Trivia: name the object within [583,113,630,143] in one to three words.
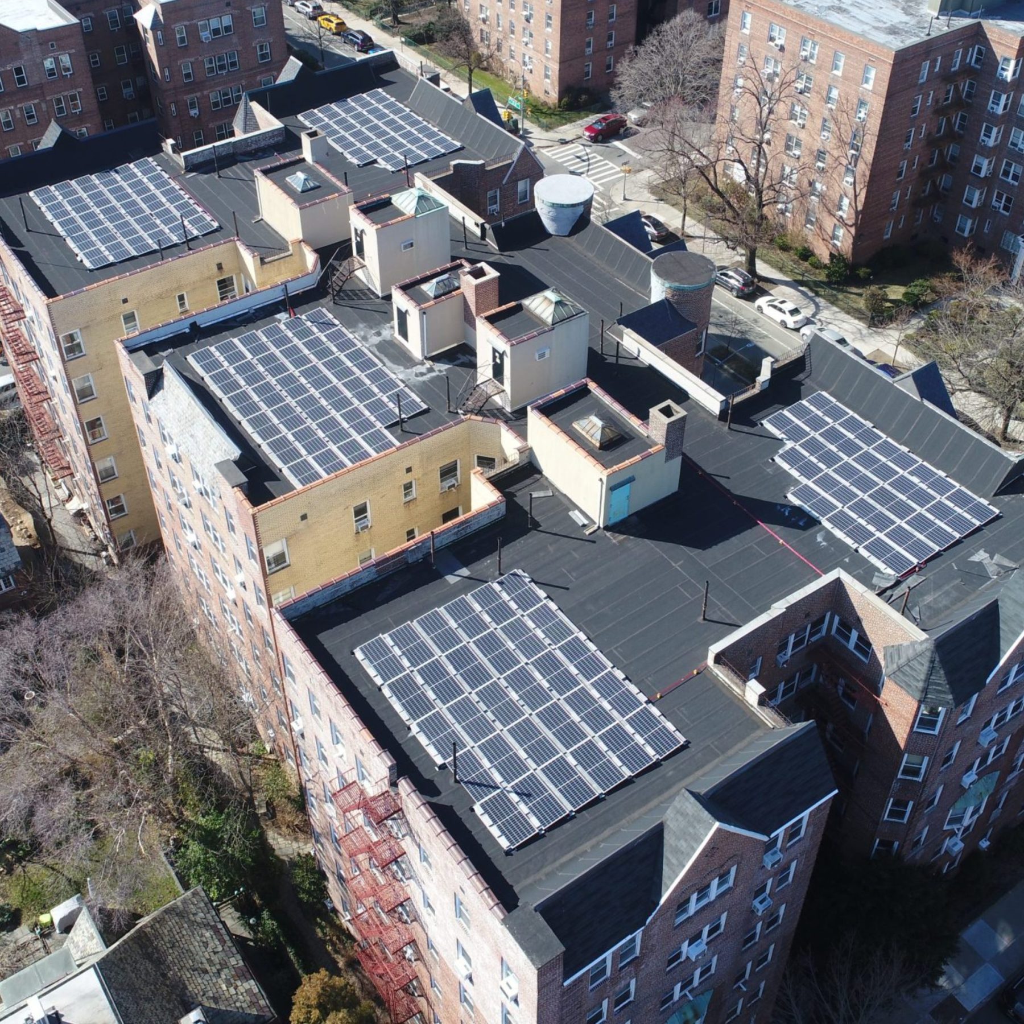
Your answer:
car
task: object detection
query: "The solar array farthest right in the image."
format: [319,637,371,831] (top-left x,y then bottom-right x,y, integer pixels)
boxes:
[758,394,1003,584]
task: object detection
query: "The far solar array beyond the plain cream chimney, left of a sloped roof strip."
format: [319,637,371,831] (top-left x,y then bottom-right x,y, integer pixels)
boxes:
[297,94,462,174]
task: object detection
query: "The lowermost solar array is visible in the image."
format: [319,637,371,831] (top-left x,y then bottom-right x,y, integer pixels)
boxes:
[349,568,688,861]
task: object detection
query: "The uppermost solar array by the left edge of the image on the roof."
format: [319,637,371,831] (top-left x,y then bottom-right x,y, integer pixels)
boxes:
[26,163,213,275]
